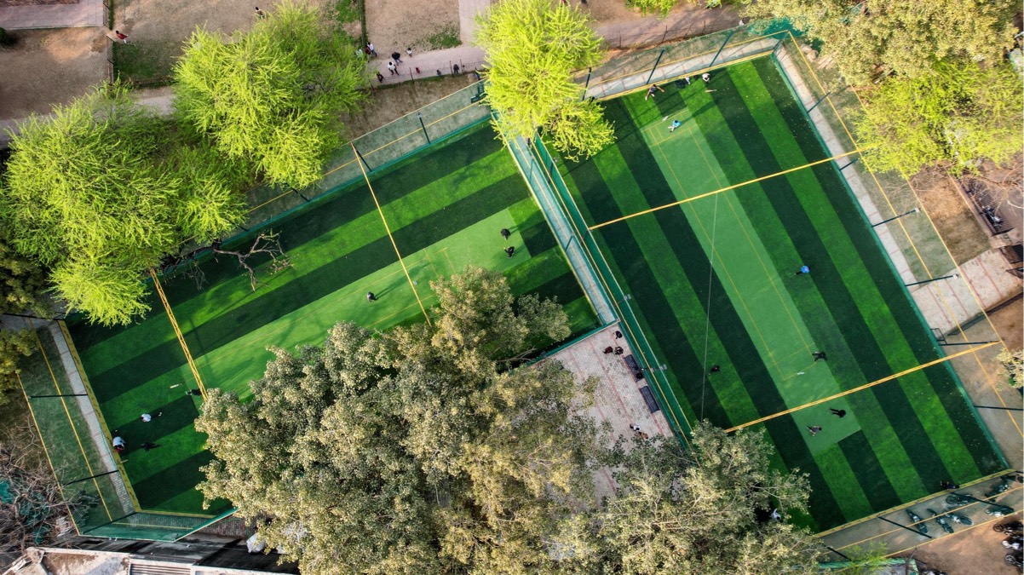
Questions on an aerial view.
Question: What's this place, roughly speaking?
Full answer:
What you see here is a sports ground.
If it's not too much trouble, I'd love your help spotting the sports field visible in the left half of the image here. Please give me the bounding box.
[63,117,600,516]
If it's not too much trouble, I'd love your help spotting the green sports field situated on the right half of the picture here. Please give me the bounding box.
[538,58,1004,547]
